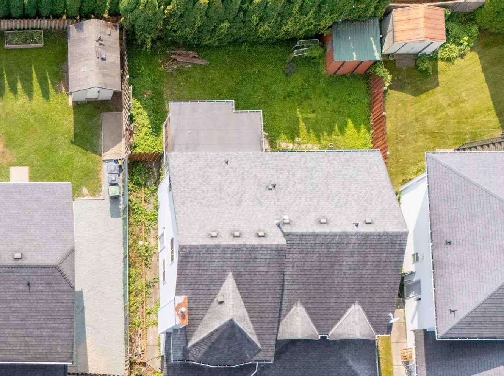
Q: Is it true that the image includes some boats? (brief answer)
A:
No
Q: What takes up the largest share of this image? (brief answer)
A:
buildings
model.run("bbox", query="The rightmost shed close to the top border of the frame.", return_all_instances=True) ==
[381,6,445,54]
